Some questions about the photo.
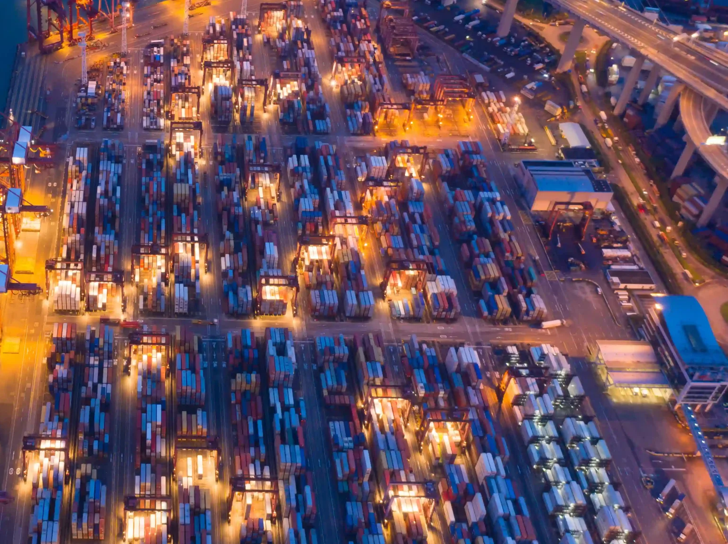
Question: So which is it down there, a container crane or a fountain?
container crane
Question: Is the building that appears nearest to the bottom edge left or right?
right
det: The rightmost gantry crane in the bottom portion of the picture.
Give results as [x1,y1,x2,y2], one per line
[497,364,555,403]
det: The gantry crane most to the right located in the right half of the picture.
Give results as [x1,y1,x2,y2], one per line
[544,199,593,235]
